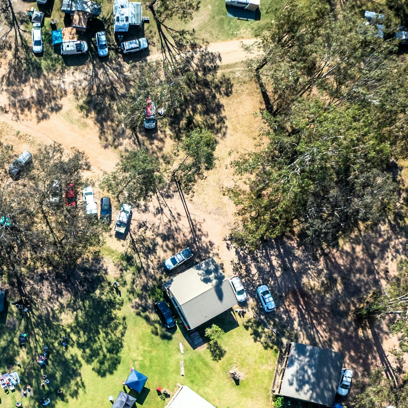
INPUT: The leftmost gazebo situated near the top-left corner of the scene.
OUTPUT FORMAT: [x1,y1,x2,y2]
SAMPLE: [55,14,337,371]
[26,10,45,31]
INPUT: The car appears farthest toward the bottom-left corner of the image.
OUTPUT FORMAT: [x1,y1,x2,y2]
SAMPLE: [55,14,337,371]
[156,300,175,328]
